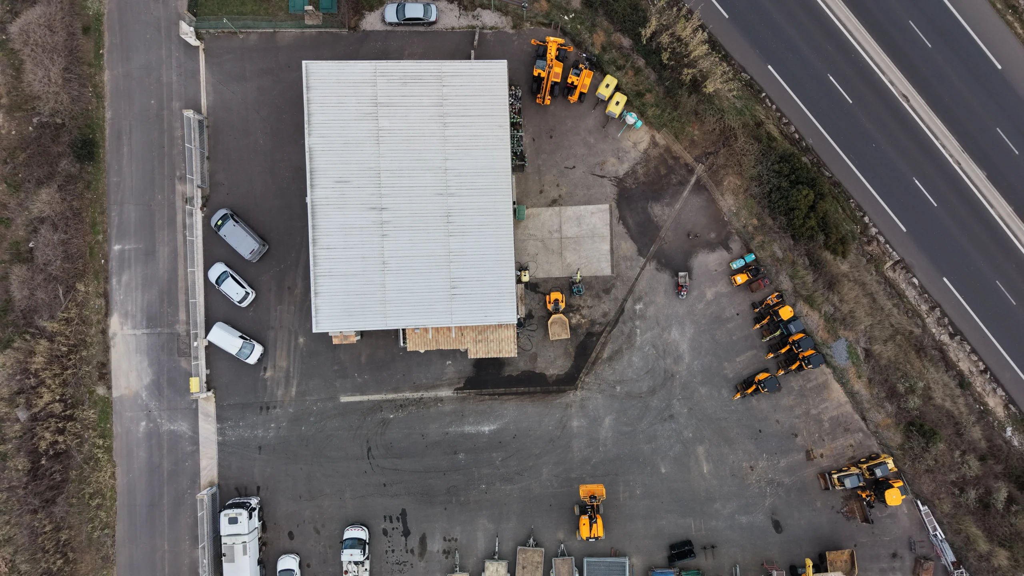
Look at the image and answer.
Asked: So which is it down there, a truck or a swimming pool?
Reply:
truck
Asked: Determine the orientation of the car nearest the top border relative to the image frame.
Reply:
from side to side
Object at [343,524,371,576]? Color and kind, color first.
white truck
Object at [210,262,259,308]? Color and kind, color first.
white car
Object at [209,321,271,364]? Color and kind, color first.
white van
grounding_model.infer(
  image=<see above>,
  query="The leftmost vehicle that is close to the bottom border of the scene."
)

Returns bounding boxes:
[221,490,268,576]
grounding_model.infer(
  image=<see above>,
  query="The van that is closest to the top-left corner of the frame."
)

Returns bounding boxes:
[213,211,266,265]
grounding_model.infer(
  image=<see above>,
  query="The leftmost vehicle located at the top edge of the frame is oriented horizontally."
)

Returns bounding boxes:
[383,2,441,30]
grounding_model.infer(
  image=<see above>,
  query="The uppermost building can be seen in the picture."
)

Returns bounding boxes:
[302,60,518,359]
